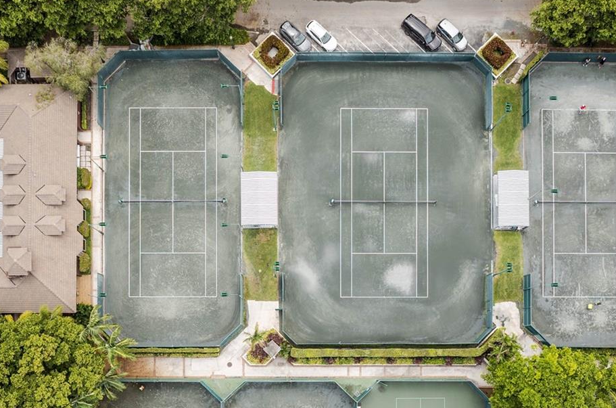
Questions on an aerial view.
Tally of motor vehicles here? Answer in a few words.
4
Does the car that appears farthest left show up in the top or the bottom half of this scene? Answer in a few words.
top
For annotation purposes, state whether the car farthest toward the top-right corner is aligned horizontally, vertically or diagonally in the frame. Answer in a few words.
diagonally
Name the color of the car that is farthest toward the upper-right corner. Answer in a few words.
white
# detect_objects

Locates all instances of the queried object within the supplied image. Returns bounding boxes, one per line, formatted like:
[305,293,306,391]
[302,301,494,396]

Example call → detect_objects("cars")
[406,15,443,52]
[280,19,312,53]
[306,18,337,52]
[438,18,469,52]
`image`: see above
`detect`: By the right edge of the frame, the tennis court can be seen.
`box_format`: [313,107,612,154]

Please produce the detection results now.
[521,62,616,347]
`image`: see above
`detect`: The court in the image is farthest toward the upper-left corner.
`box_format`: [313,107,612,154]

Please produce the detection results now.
[102,59,242,347]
